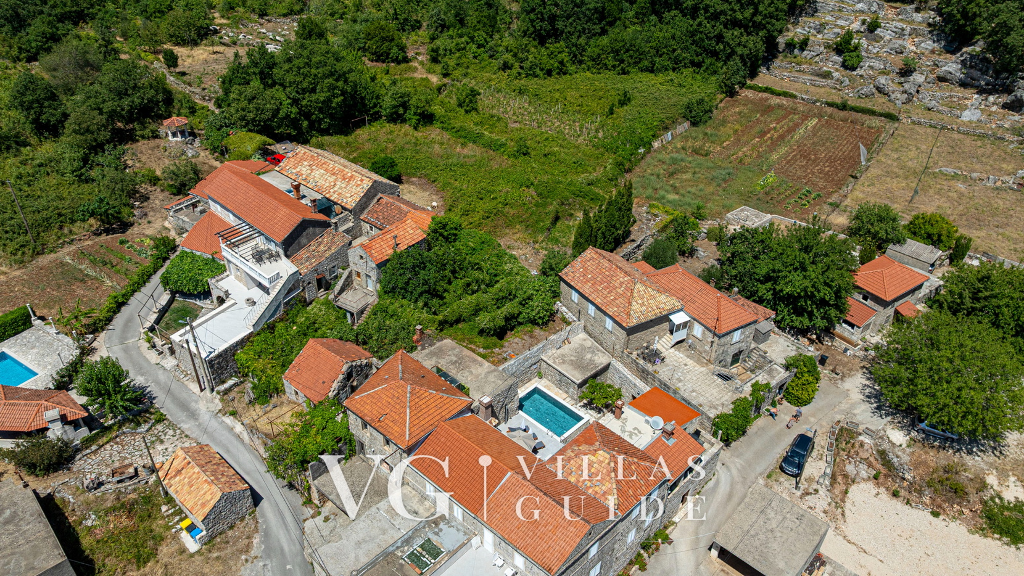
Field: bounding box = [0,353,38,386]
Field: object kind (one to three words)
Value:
swimming pool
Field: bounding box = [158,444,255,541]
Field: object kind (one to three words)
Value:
barn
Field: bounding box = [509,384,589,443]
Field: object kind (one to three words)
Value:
swimming pool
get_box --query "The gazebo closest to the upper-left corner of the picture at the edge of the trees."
[156,116,190,144]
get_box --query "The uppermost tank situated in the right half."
[726,206,772,234]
